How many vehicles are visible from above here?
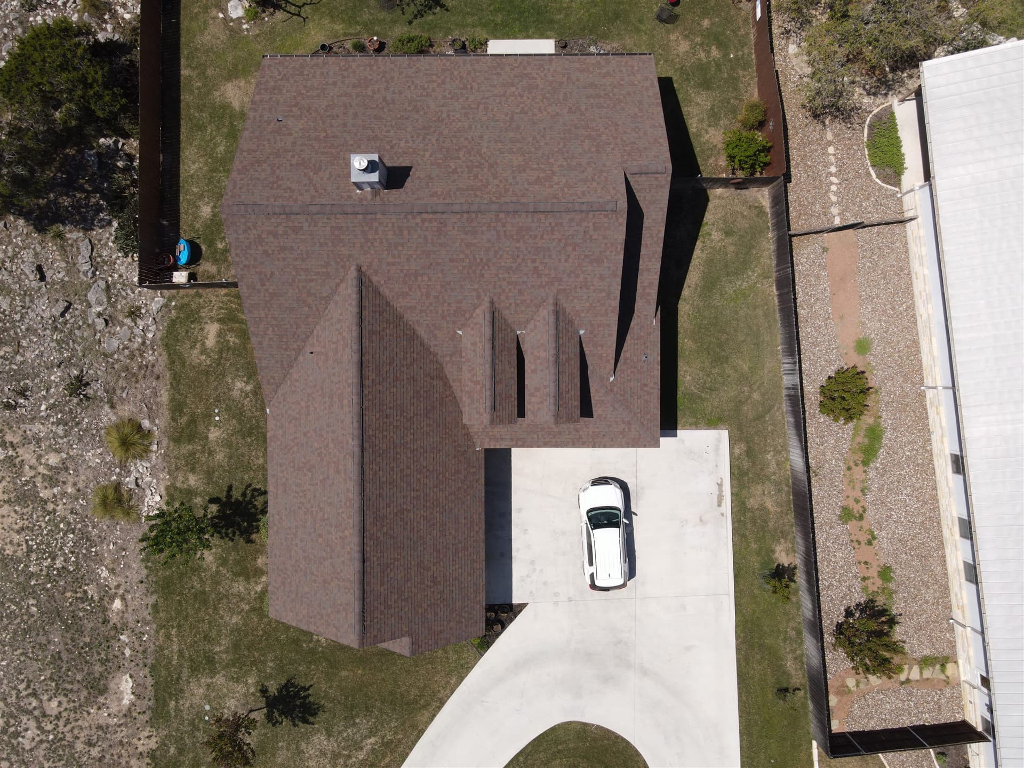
1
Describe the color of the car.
white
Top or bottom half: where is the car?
bottom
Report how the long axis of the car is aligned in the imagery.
up and down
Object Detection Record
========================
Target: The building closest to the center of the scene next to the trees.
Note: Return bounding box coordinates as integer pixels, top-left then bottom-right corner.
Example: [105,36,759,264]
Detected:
[221,52,671,657]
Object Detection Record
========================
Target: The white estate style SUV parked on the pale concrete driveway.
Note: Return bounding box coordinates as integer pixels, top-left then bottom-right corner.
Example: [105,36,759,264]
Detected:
[577,479,632,593]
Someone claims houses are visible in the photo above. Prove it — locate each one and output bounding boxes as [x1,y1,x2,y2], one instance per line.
[221,52,671,657]
[891,38,1024,768]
